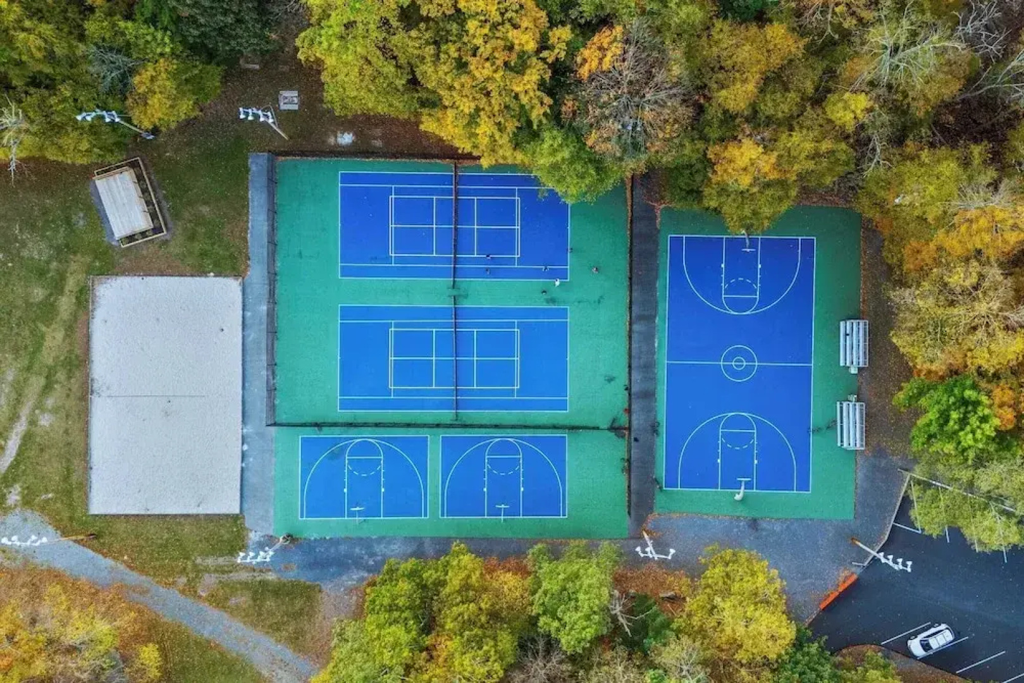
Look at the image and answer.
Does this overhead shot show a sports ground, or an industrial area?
sports ground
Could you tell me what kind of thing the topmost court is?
tennis court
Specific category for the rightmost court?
basketball court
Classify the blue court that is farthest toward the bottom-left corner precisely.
basketball court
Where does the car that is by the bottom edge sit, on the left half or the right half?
right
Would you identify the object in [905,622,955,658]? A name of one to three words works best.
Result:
car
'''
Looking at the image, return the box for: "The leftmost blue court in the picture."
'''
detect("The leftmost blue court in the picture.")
[274,423,434,538]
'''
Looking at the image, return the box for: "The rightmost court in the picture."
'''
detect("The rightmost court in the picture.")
[655,207,860,520]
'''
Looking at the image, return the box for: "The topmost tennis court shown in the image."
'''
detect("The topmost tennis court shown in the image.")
[276,159,628,292]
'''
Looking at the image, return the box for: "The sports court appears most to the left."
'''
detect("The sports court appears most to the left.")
[88,276,243,515]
